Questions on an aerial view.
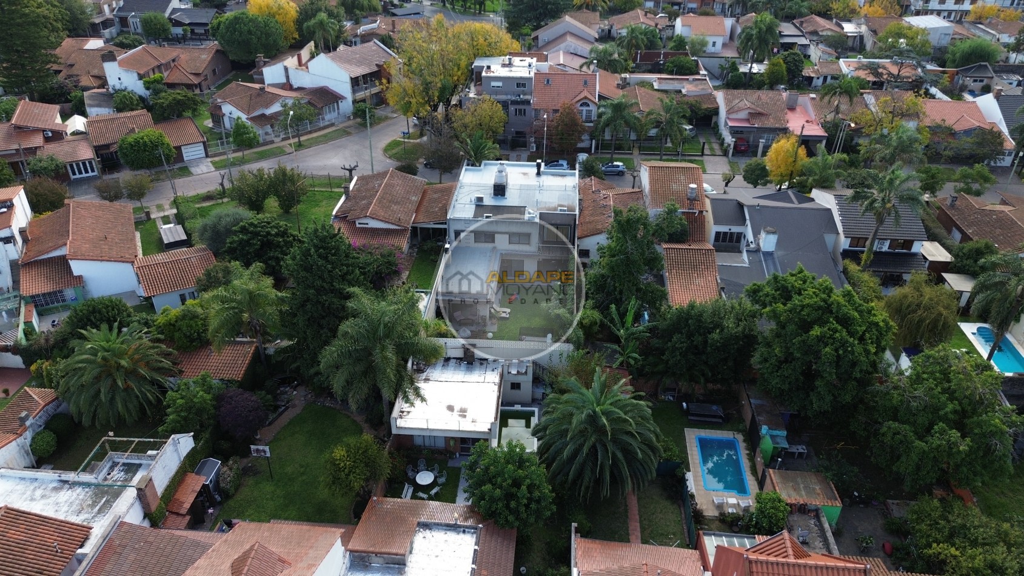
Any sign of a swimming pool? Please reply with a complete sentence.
Yes, the image includes a swimming pool.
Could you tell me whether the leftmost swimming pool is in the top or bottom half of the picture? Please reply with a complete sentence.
It is in the bottom half that the leftmost swimming pool appears.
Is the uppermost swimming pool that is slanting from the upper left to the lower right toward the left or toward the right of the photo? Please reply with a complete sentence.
The uppermost swimming pool that is slanting from the upper left to the lower right appears in the right half of the scene.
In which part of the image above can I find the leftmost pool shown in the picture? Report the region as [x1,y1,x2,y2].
[499,408,536,451]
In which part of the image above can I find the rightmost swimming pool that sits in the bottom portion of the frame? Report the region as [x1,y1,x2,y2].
[971,326,1024,374]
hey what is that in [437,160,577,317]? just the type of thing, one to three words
house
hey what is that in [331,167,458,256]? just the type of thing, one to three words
house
